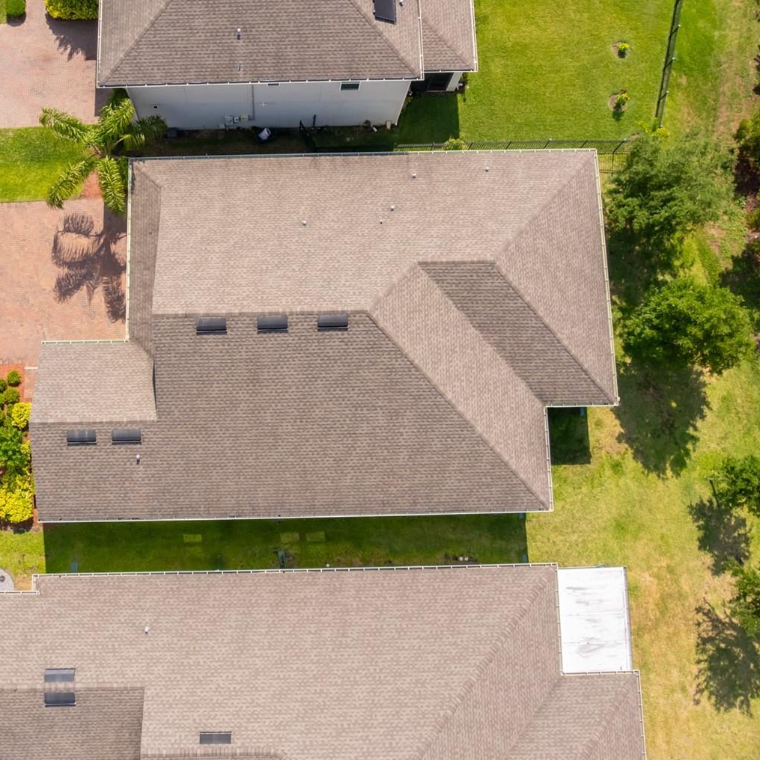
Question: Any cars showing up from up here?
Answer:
No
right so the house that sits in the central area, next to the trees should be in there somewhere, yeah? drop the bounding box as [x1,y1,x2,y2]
[29,147,622,523]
